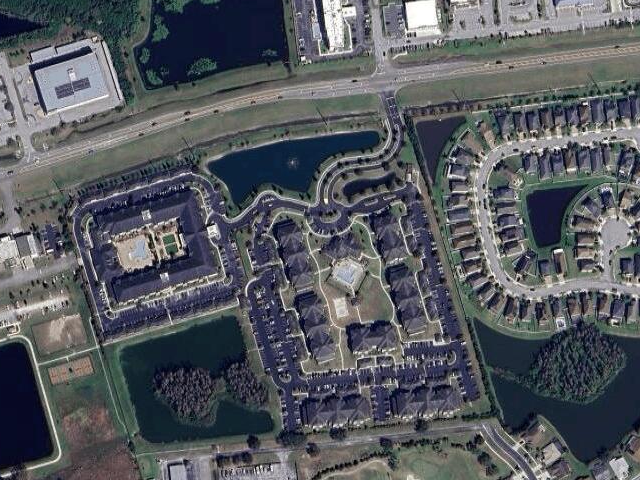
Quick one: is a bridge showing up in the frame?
No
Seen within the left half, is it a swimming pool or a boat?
swimming pool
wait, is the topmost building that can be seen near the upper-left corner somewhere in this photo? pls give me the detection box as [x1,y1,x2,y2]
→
[35,53,109,116]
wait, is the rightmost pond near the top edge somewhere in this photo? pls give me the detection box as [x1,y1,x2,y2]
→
[136,0,286,89]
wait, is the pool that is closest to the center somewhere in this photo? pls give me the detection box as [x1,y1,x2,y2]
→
[331,260,362,292]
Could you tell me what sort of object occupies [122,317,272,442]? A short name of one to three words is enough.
pond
